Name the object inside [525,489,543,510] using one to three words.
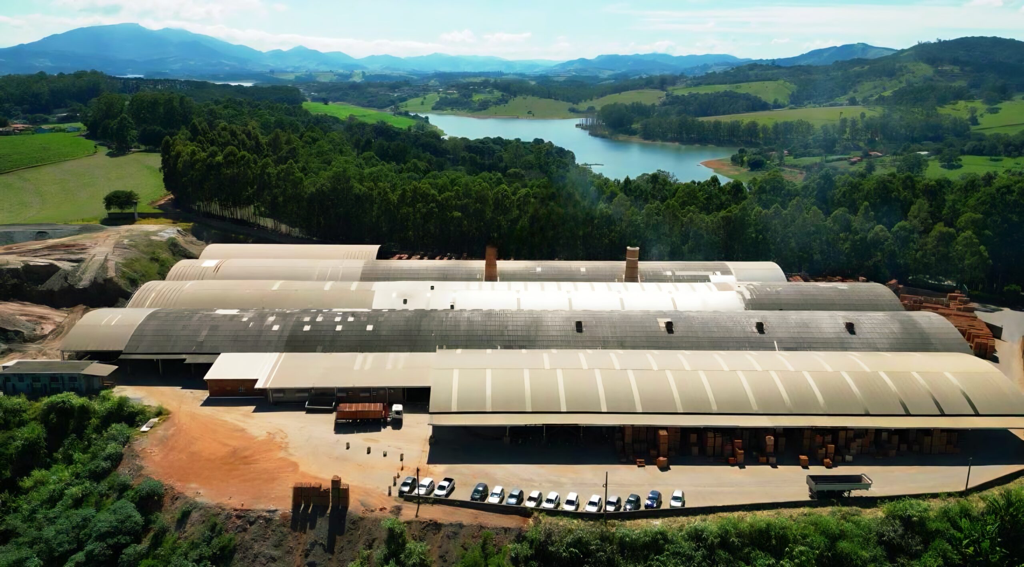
car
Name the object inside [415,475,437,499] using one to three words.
car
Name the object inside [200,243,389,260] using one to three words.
shed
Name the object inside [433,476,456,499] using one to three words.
vehicle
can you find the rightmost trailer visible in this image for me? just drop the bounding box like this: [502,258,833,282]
[808,475,874,502]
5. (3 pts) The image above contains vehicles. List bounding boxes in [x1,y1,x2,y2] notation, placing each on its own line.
[585,493,602,514]
[525,489,543,510]
[468,480,490,503]
[624,490,641,514]
[397,475,419,497]
[606,493,622,514]
[506,487,524,507]
[415,475,437,499]
[486,482,507,506]
[334,404,404,428]
[433,476,456,499]
[669,489,685,510]
[645,487,662,512]
[562,493,580,513]
[542,488,561,511]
